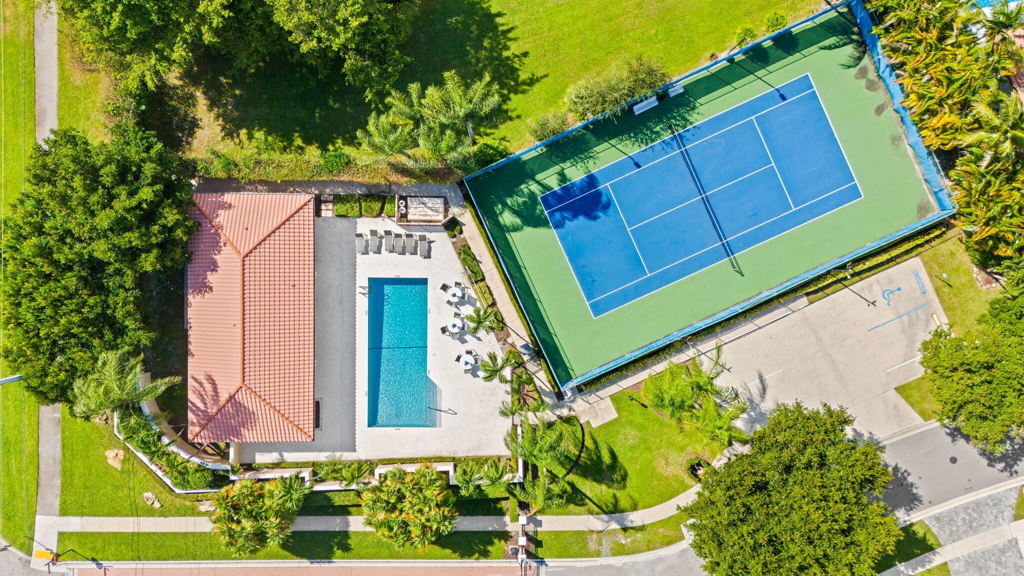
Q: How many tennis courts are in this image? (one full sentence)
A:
The photo contains exactly 1 tennis court.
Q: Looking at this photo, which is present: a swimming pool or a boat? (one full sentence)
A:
There is a swimming pool in the scene.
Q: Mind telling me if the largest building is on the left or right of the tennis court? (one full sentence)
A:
In the image, the largest building sits on the left side of the tennis court.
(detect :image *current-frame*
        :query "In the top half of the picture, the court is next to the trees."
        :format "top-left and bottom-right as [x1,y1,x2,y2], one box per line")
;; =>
[469,13,936,385]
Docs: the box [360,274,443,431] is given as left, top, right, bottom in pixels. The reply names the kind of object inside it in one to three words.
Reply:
swimming pool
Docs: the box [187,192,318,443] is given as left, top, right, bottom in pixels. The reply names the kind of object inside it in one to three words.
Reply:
building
